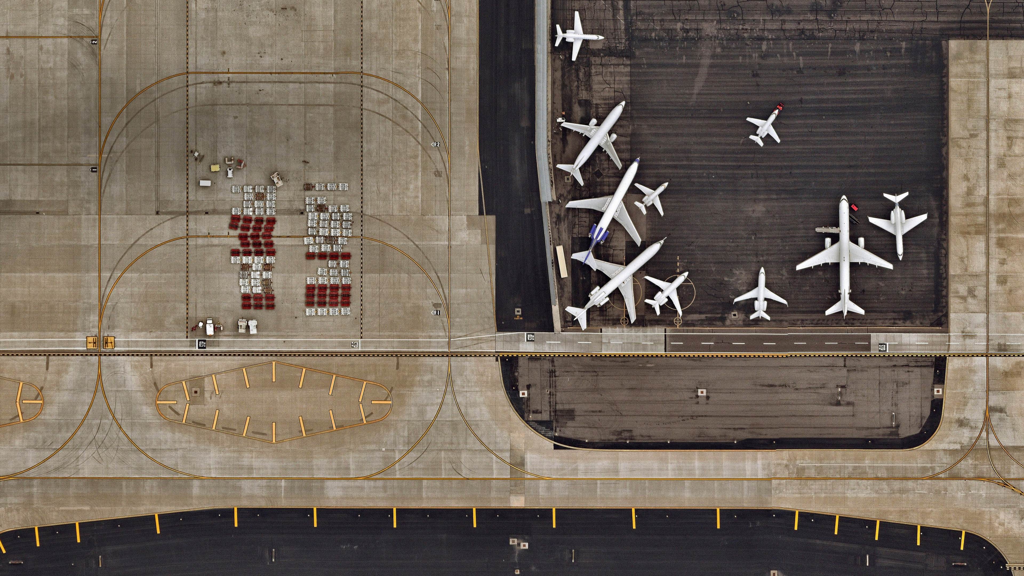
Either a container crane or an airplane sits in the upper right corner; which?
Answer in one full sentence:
What appears in the upper right corner is an airplane.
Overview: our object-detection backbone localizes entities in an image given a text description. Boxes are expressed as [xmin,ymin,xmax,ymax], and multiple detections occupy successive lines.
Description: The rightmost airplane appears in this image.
[868,192,928,260]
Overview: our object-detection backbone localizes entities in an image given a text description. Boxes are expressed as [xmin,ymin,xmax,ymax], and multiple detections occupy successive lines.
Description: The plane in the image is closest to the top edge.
[555,11,604,60]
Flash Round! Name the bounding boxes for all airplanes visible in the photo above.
[746,110,780,146]
[555,11,604,60]
[868,192,928,260]
[565,238,666,330]
[566,157,641,270]
[733,267,788,320]
[796,195,893,315]
[645,272,688,318]
[634,182,668,216]
[556,101,626,185]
